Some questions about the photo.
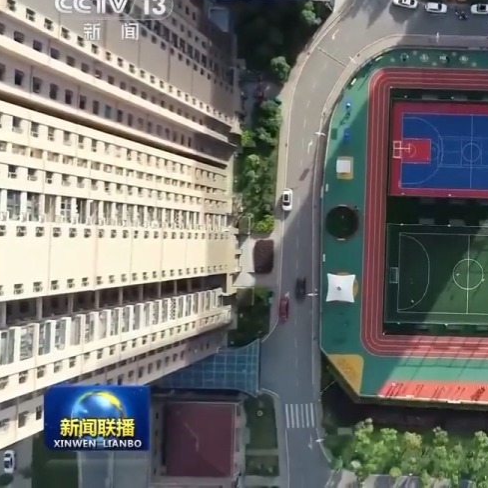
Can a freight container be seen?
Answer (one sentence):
No, the scene contains no freight container.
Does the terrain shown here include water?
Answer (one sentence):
No, the scene doesn't show any water.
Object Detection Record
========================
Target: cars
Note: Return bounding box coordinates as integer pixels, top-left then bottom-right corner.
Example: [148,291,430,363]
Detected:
[278,298,289,322]
[282,188,293,212]
[295,276,307,300]
[392,0,417,9]
[470,4,488,15]
[425,3,448,14]
[2,449,16,472]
